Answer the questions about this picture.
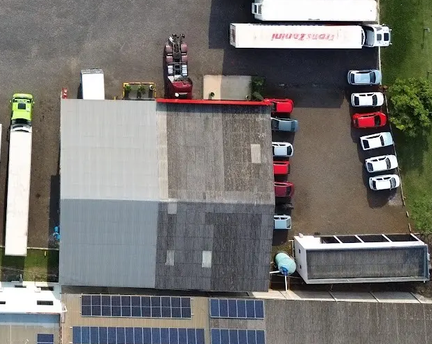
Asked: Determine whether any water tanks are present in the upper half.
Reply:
No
